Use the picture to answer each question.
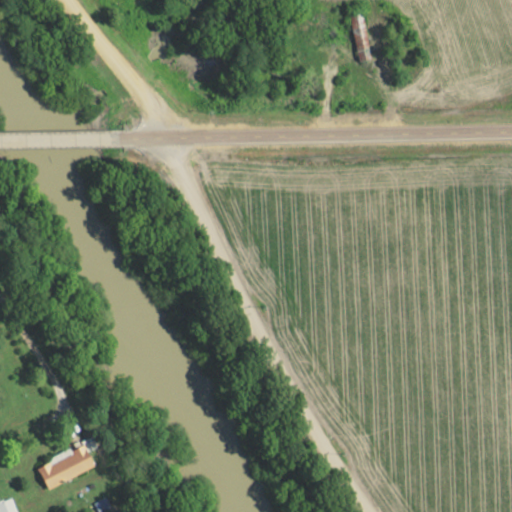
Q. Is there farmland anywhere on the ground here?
Yes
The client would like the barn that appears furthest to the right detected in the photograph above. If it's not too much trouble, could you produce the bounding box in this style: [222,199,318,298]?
[351,14,372,62]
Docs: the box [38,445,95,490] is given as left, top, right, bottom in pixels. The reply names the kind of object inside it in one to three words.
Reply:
house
